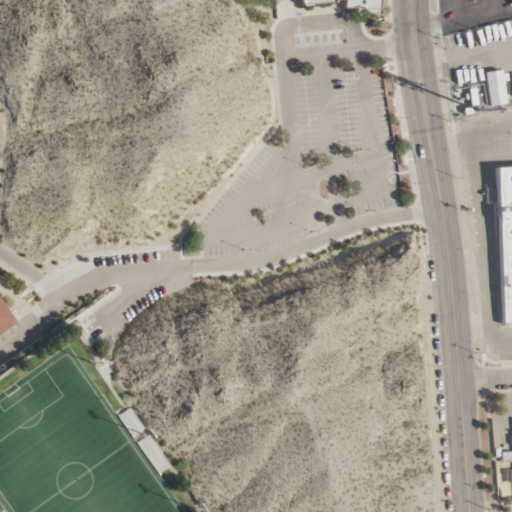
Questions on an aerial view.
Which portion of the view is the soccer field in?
bottom left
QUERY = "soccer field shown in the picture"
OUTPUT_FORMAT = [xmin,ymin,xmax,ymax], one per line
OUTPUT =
[0,346,186,512]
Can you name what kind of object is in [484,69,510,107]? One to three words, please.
shed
